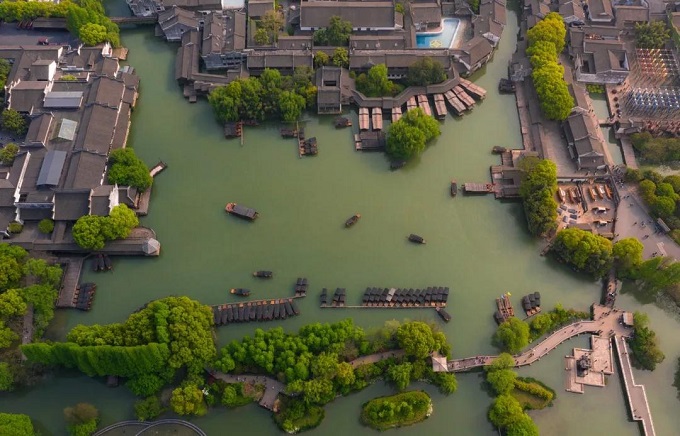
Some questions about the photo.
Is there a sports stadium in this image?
No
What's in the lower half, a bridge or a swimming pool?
bridge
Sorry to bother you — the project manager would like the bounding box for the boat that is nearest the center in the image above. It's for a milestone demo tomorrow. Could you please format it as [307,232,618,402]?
[344,214,361,233]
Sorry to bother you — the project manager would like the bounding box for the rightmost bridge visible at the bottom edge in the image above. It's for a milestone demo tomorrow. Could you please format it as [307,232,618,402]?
[612,336,657,436]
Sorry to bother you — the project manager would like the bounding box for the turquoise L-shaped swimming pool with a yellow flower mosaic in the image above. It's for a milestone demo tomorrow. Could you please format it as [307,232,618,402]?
[416,19,460,49]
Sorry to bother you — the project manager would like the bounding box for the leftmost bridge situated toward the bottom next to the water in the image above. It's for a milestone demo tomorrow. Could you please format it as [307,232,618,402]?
[447,319,602,371]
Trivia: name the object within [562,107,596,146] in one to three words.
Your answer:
house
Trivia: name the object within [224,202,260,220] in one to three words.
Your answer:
boat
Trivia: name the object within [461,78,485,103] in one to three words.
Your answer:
boat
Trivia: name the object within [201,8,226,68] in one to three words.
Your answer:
house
